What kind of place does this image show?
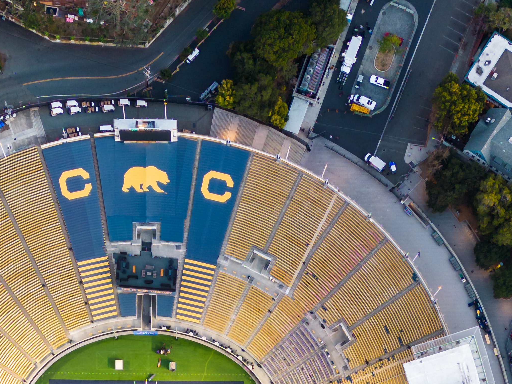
sports ground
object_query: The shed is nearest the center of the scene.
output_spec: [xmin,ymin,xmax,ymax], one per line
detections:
[284,96,309,141]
